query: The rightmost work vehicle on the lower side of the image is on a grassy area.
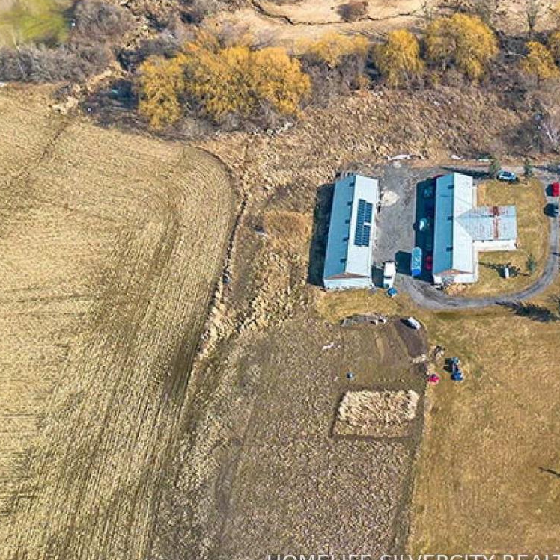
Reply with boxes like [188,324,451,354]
[449,359,464,387]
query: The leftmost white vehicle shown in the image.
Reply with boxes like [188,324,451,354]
[381,260,395,286]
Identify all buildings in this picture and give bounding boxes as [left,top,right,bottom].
[324,174,378,286]
[433,172,517,286]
